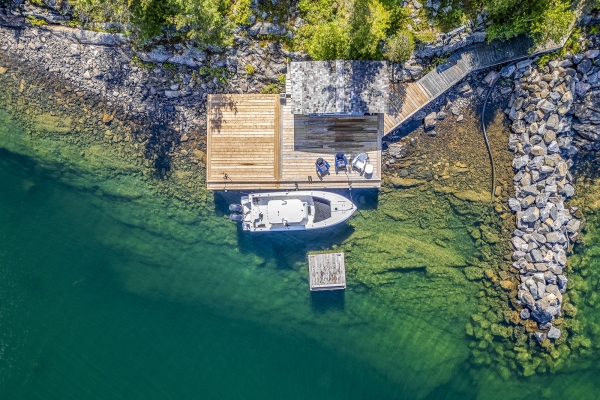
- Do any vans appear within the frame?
No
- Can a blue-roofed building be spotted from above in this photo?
No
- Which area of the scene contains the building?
top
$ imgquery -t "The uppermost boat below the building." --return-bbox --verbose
[229,190,360,231]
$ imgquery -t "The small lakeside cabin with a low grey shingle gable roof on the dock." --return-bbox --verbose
[289,57,389,119]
